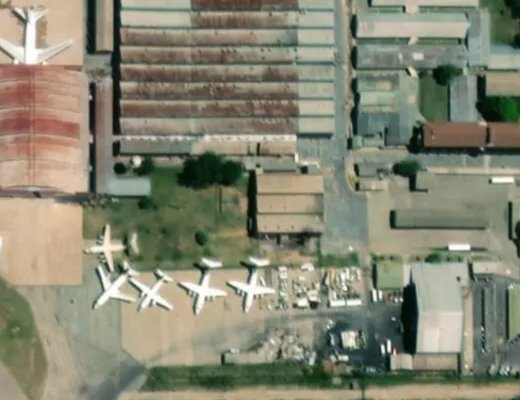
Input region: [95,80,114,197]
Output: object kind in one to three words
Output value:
shed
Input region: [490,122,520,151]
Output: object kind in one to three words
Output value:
house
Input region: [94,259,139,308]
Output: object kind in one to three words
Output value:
airplane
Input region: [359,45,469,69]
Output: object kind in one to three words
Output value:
building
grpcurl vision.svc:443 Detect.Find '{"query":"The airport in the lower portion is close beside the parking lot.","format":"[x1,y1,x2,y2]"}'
[0,196,368,400]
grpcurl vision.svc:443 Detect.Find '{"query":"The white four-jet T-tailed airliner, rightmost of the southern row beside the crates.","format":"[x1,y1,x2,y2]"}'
[228,255,276,311]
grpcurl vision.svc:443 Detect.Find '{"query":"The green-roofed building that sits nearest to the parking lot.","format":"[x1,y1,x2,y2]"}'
[375,262,403,289]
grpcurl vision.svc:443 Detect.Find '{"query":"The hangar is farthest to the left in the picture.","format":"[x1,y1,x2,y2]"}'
[0,65,92,197]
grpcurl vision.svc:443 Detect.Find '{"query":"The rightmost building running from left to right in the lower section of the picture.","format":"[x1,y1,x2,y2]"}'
[473,261,506,275]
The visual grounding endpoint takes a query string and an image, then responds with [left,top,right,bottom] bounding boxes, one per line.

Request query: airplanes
[129,261,176,310]
[228,255,276,311]
[83,224,138,271]
[94,259,139,308]
[0,0,72,65]
[180,258,228,314]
